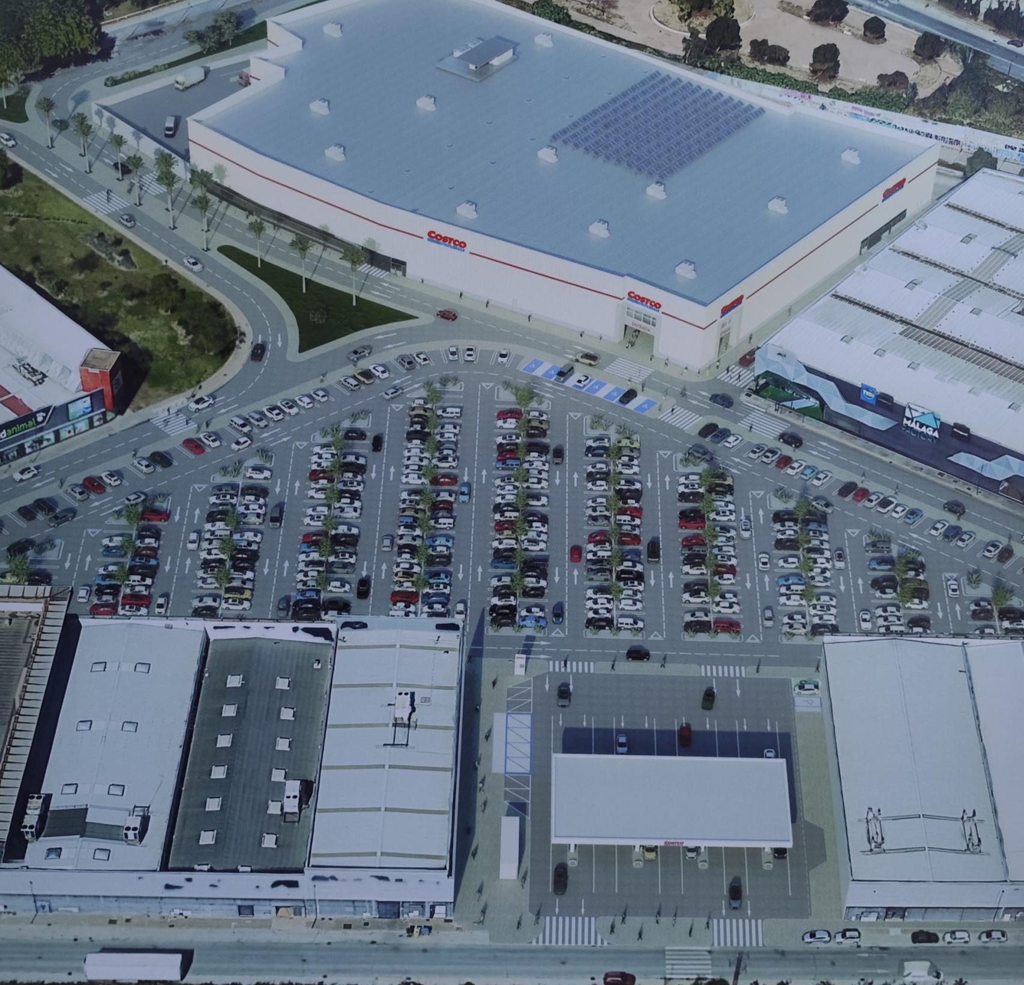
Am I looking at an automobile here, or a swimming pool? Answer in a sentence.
Looking from above, you can make out an automobile.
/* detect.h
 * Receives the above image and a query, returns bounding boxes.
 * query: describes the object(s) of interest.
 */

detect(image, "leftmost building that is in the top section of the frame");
[0,266,125,462]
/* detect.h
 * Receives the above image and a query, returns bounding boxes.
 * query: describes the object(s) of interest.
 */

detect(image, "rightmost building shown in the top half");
[754,167,1024,502]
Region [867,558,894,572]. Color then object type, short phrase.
blue car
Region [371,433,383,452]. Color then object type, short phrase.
black vehicle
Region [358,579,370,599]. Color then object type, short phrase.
black vehicle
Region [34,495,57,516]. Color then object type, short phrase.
black car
